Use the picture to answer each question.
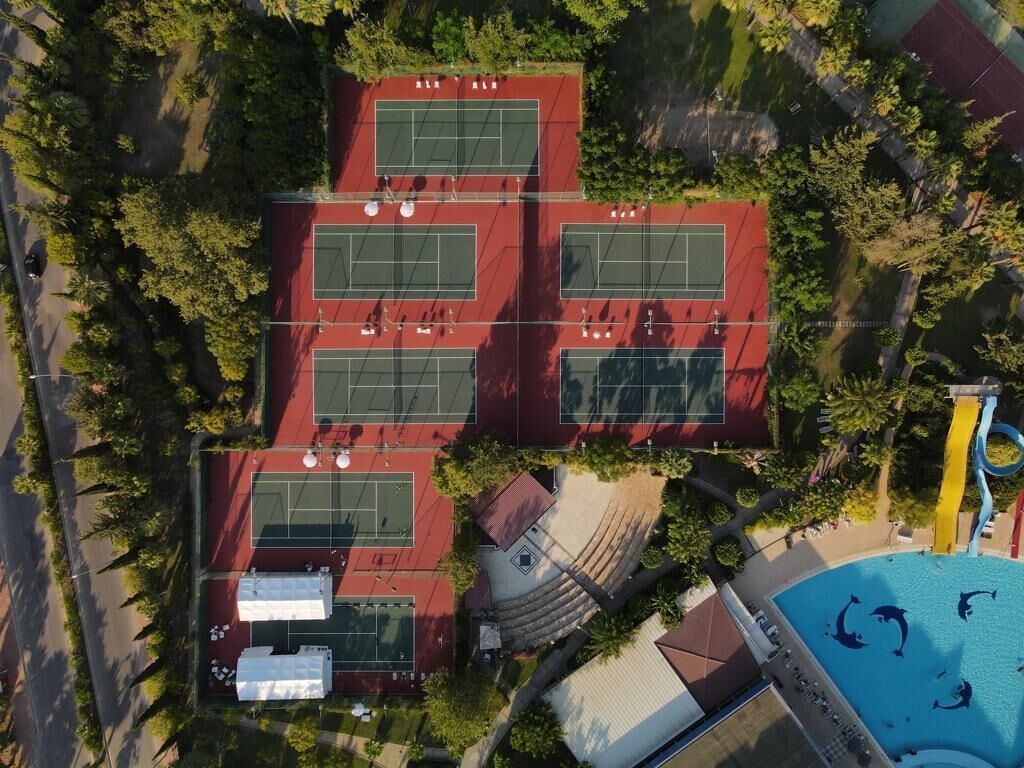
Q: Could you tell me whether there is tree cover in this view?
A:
Yes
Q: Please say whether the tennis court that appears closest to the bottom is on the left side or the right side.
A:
left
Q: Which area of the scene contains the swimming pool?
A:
bottom right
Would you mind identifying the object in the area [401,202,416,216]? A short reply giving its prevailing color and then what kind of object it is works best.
white umbrella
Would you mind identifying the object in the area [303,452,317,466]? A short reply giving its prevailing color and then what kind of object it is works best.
white umbrella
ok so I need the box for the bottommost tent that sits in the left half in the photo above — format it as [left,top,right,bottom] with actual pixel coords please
[237,641,334,699]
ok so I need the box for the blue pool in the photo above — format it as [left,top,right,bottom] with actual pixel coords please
[761,545,1024,768]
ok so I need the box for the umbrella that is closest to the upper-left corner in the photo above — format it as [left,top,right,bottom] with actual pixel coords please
[365,202,379,216]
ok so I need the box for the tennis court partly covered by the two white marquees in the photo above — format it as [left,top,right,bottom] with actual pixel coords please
[205,575,452,694]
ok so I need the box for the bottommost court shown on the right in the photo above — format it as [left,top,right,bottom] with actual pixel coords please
[519,324,769,447]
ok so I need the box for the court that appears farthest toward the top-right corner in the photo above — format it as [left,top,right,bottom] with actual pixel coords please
[855,0,1024,206]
